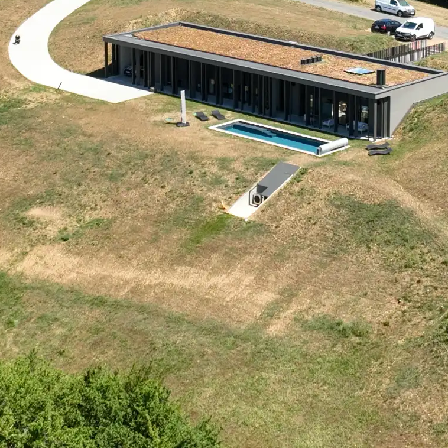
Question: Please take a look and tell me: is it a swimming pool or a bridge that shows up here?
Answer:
swimming pool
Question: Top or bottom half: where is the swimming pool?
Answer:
top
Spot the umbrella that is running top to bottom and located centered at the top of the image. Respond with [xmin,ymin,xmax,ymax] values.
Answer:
[174,92,191,129]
